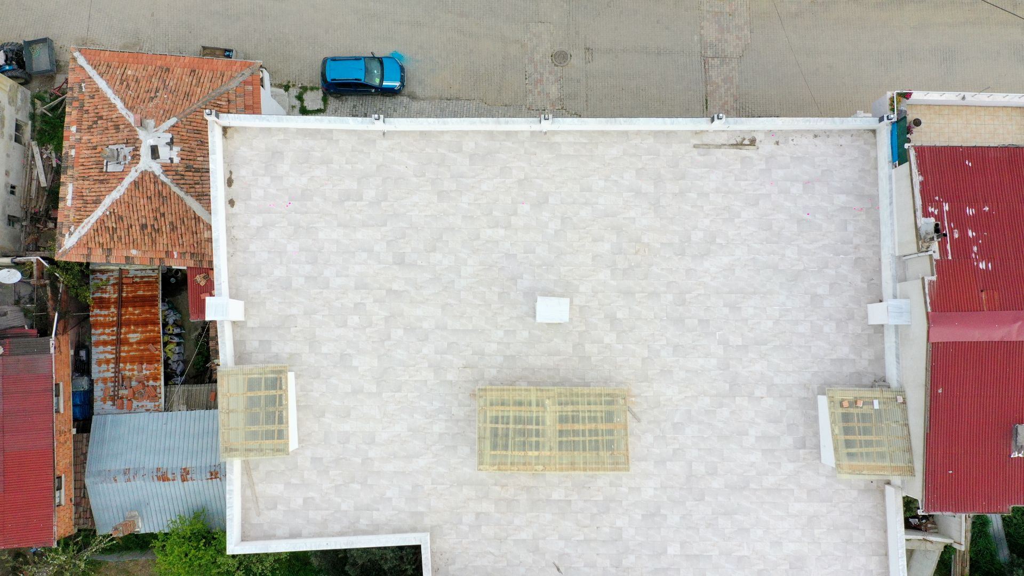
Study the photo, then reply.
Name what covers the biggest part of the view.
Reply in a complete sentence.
What you mostly see from above here is buildings.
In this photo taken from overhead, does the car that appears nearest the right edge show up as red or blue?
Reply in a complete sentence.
The car that appears nearest the right edge looks blue in the image.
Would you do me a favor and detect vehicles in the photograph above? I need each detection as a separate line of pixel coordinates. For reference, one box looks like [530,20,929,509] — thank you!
[0,38,35,88]
[319,50,406,99]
